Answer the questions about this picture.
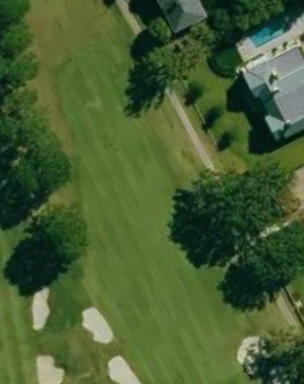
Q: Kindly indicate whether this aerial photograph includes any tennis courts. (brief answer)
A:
No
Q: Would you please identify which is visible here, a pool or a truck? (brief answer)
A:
pool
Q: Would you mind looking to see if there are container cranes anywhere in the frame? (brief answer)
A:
No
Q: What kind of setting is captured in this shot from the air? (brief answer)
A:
golf course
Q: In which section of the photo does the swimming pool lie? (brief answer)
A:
top right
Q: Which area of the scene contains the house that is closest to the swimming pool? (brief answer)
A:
top right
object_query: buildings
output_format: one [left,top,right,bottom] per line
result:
[159,0,205,32]
[240,37,304,140]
